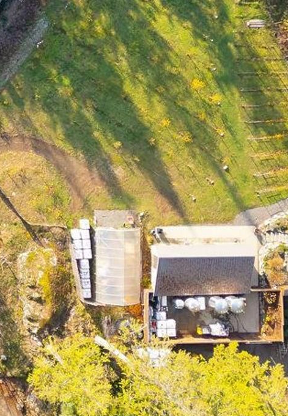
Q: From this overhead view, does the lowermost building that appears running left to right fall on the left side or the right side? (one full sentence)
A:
The lowermost building that appears running left to right appears in the right half of the scene.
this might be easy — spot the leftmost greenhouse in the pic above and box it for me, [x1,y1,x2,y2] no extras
[98,229,142,307]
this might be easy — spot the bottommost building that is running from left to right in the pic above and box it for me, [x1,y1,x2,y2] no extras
[145,242,258,297]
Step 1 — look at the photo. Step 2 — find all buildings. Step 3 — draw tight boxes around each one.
[145,242,258,297]
[98,229,142,307]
